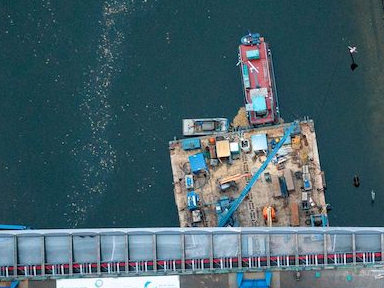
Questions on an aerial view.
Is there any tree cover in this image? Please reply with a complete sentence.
No, tree cover can't be seen anywhere here.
